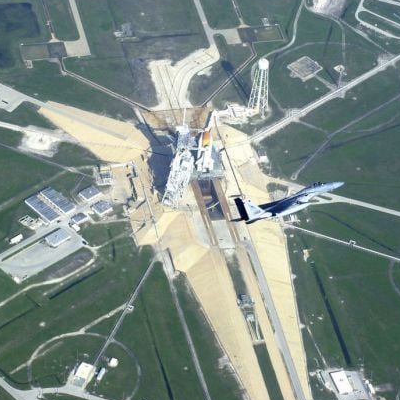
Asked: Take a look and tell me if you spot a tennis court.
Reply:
No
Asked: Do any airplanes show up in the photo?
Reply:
Yes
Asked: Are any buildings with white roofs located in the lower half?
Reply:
Yes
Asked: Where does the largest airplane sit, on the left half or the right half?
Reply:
right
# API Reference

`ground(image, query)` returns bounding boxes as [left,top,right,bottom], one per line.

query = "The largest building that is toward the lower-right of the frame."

[331,370,354,396]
